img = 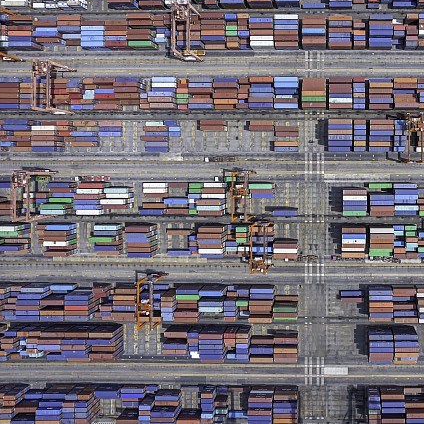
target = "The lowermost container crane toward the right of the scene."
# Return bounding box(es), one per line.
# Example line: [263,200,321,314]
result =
[248,217,276,274]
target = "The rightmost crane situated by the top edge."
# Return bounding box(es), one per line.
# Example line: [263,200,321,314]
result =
[171,2,205,60]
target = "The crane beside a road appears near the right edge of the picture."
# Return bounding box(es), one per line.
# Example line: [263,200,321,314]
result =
[397,113,424,163]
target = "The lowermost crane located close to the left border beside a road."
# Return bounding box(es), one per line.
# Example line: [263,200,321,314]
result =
[11,169,57,221]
